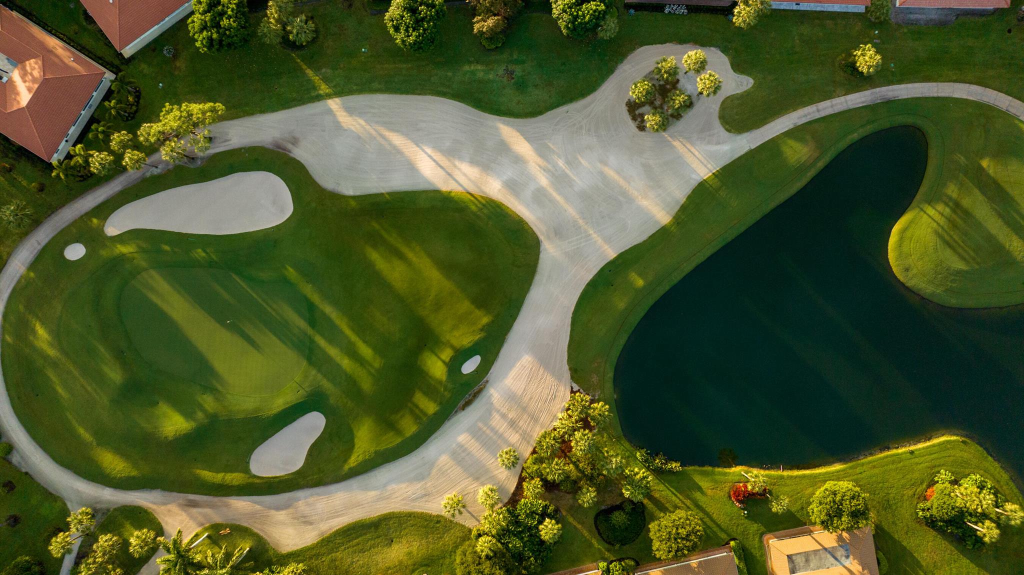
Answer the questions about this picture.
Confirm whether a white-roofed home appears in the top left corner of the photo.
No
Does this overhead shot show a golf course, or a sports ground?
golf course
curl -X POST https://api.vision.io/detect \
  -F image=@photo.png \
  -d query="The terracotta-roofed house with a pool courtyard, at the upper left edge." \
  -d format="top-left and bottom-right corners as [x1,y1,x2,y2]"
[0,7,112,162]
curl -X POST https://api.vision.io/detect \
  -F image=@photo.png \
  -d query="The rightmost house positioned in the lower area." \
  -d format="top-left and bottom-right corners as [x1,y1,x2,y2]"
[765,522,879,575]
